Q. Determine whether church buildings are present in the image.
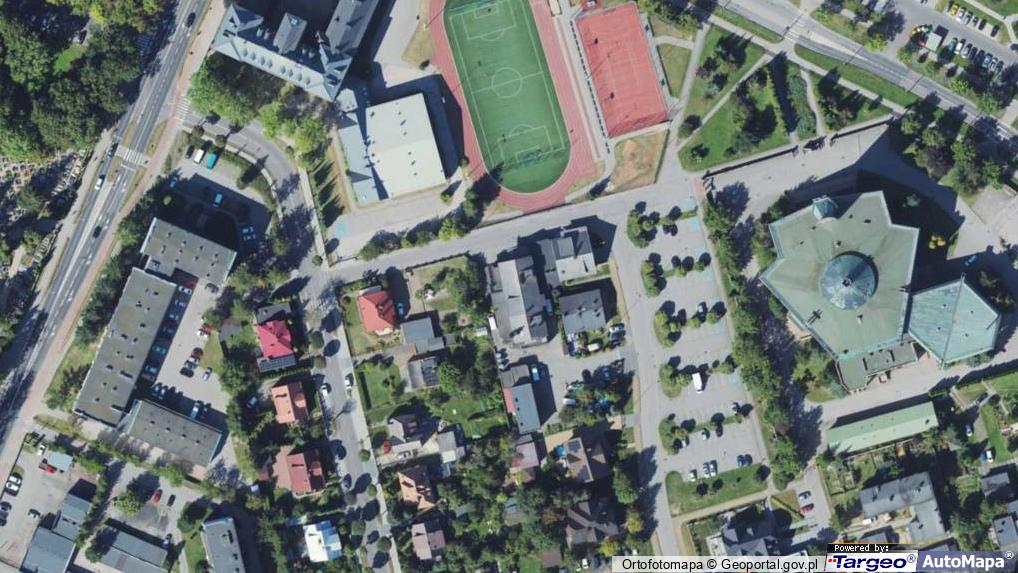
Yes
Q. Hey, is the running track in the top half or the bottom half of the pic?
top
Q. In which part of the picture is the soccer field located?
top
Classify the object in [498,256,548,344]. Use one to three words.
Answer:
building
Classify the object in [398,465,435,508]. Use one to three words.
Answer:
house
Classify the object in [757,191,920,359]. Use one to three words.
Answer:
church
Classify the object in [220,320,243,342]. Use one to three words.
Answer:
shed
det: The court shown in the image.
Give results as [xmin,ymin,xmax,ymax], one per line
[576,2,668,137]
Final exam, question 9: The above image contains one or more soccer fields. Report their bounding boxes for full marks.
[442,0,570,194]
